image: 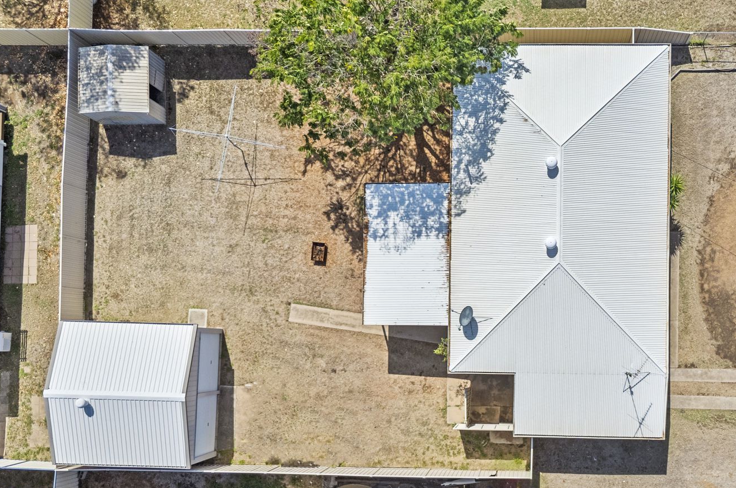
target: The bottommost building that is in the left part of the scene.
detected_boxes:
[45,317,221,471]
